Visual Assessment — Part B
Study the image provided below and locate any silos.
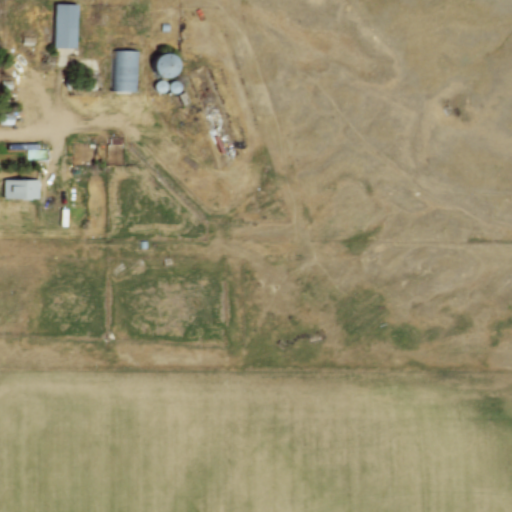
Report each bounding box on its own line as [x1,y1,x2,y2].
[156,53,184,82]
[156,80,170,96]
[170,80,185,96]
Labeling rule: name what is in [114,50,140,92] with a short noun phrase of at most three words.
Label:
barn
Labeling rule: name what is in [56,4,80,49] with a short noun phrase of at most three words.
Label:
shed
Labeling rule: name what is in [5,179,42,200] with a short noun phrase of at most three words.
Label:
house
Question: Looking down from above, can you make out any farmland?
Yes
